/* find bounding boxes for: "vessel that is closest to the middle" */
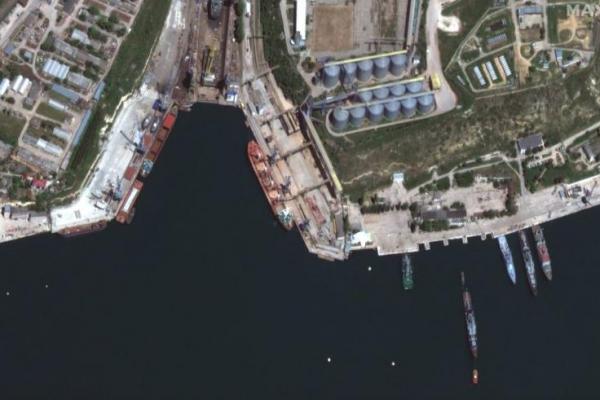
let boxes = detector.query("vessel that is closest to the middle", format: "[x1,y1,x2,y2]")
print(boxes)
[248,139,293,232]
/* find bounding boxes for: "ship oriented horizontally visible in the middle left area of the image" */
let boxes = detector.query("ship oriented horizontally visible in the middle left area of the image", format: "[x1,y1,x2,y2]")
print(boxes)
[59,222,108,237]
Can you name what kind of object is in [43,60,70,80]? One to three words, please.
building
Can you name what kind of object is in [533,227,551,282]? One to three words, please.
ship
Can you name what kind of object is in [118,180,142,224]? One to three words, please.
ship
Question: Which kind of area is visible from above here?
port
